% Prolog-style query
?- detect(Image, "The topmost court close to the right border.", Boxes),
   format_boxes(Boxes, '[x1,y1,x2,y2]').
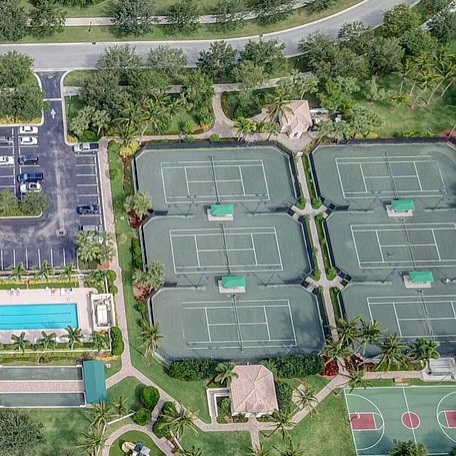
[312,143,456,209]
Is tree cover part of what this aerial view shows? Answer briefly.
Yes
